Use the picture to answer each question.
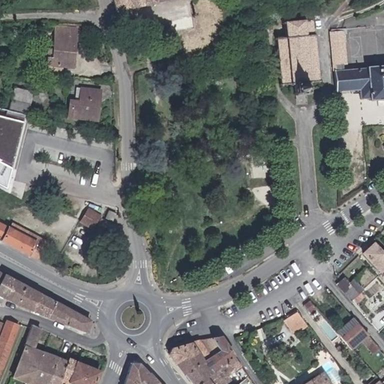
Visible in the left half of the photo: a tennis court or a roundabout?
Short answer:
roundabout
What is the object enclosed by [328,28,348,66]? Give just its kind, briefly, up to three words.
building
